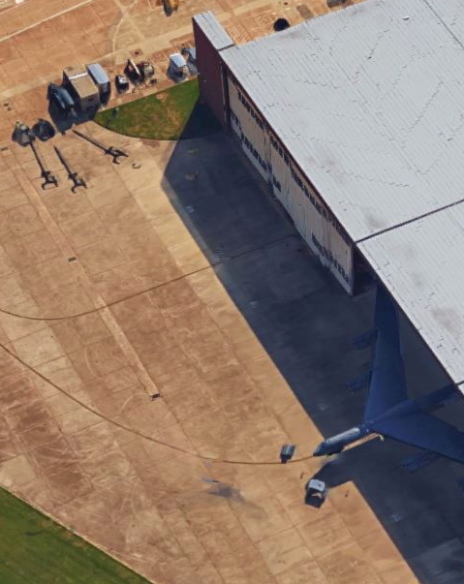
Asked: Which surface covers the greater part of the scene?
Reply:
paved ground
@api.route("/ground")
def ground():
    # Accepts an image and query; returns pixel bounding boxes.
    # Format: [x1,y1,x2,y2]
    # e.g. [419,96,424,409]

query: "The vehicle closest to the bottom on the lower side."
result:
[303,475,330,507]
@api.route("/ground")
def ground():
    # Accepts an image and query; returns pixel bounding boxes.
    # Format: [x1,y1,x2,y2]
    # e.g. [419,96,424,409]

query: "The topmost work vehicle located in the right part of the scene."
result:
[280,440,297,464]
